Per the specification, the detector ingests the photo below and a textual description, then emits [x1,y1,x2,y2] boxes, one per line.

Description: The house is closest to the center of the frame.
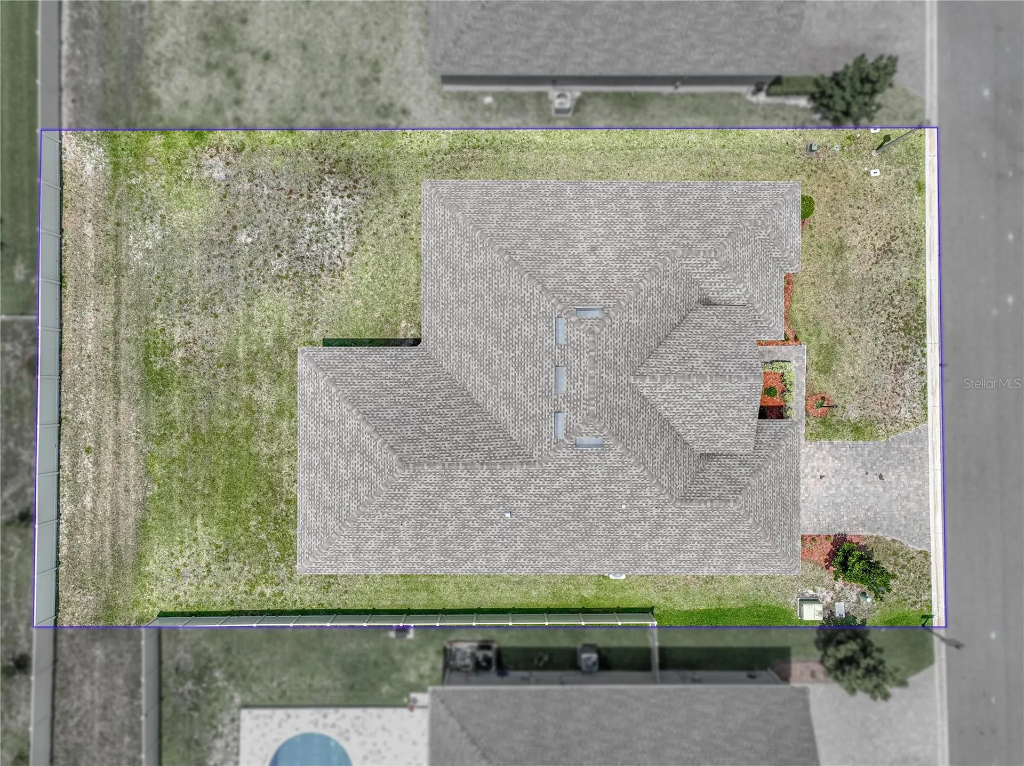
[296,180,802,575]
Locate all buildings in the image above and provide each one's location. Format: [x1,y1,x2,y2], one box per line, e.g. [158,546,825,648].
[427,671,820,766]
[296,180,802,575]
[428,0,805,83]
